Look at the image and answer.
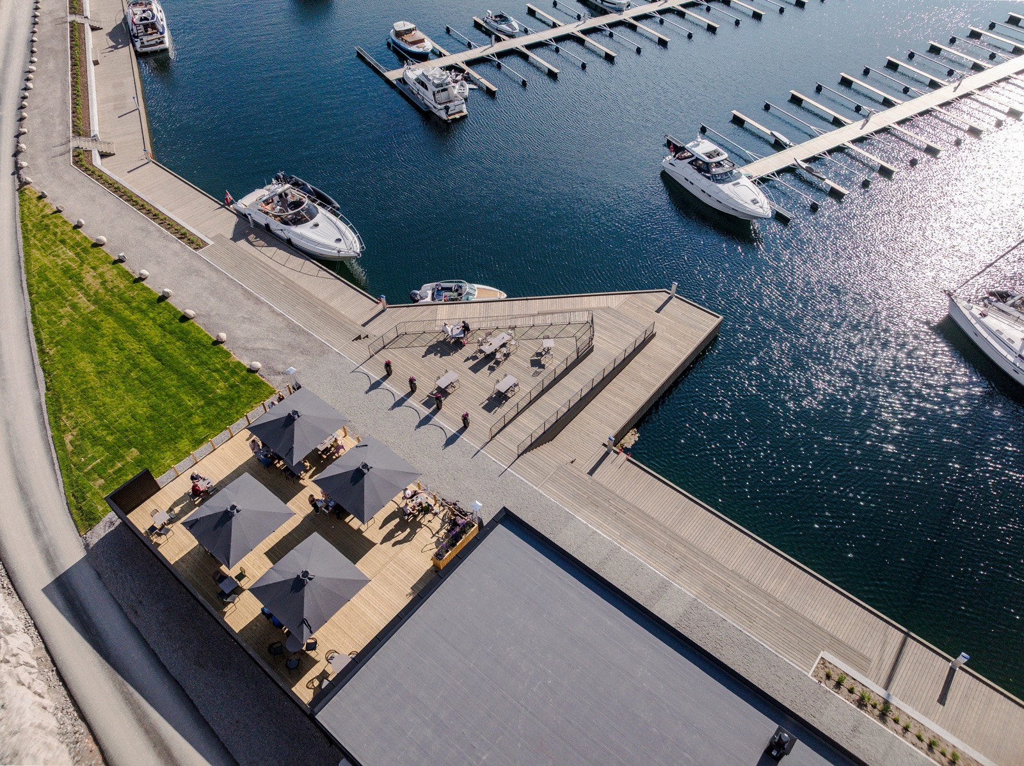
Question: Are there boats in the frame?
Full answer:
Yes, there's a boat here.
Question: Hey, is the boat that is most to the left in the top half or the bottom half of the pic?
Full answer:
The boat that is most to the left sits in the top half of the picture.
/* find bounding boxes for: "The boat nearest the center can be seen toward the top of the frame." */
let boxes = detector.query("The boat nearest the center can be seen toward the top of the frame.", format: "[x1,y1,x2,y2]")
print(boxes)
[413,276,507,305]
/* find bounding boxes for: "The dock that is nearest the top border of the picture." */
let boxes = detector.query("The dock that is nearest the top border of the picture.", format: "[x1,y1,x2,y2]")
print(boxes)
[385,0,702,81]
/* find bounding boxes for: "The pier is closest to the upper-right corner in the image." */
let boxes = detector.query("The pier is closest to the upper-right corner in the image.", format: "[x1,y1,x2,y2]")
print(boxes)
[740,54,1024,180]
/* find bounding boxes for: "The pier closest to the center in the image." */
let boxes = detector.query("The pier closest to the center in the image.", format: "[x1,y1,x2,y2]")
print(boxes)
[388,290,724,468]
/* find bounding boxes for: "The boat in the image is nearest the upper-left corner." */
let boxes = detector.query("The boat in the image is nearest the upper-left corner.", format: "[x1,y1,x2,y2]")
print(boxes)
[122,0,171,57]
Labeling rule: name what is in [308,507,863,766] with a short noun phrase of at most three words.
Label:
building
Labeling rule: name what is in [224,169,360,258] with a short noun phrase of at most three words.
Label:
boat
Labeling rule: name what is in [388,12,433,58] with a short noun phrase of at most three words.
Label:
boat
